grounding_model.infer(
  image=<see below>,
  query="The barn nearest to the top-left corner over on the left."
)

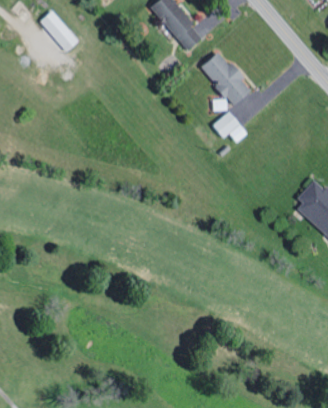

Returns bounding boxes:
[38,10,78,51]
